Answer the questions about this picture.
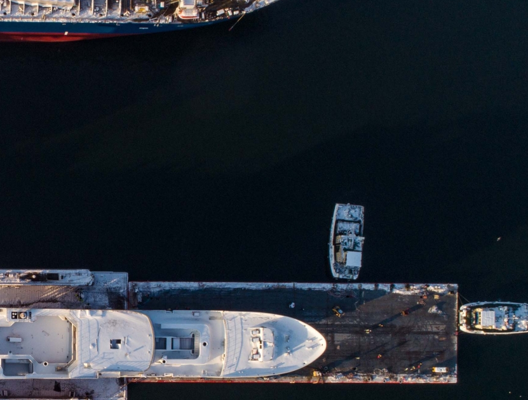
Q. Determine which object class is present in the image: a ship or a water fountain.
ship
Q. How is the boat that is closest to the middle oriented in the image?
vertically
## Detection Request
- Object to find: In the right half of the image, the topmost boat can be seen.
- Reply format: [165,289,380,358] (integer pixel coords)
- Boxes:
[327,204,366,279]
